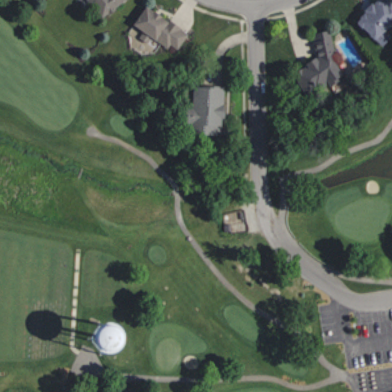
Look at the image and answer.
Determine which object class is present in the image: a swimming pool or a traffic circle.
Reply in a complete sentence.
The image shows a swimming pool.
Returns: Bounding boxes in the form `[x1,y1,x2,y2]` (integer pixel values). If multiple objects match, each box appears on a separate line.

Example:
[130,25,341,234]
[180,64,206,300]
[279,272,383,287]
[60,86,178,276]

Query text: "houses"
[134,8,190,50]
[187,86,226,136]
[356,2,392,48]
[299,32,342,92]
[86,0,127,19]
